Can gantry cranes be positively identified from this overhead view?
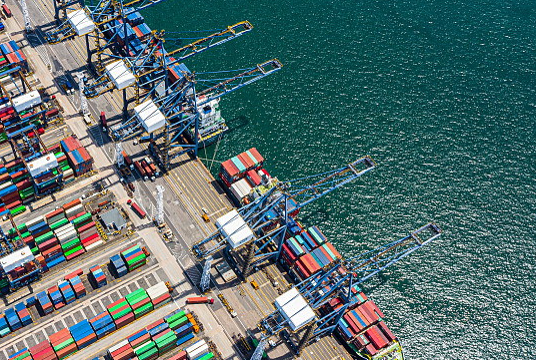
Yes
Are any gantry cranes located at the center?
Yes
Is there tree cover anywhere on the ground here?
No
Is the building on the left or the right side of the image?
left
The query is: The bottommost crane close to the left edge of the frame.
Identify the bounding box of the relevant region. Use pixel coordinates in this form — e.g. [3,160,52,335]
[0,209,44,292]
